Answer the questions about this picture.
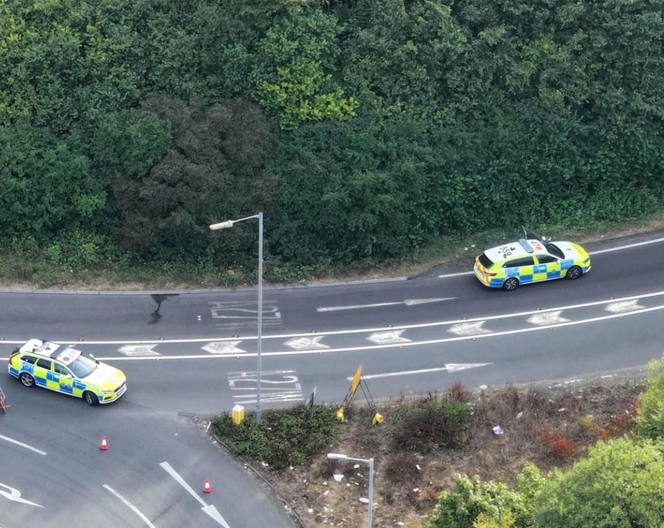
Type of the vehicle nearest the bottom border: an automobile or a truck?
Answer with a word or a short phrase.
automobile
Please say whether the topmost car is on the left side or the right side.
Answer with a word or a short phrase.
right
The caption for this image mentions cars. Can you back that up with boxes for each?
[473,225,591,290]
[7,338,127,405]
